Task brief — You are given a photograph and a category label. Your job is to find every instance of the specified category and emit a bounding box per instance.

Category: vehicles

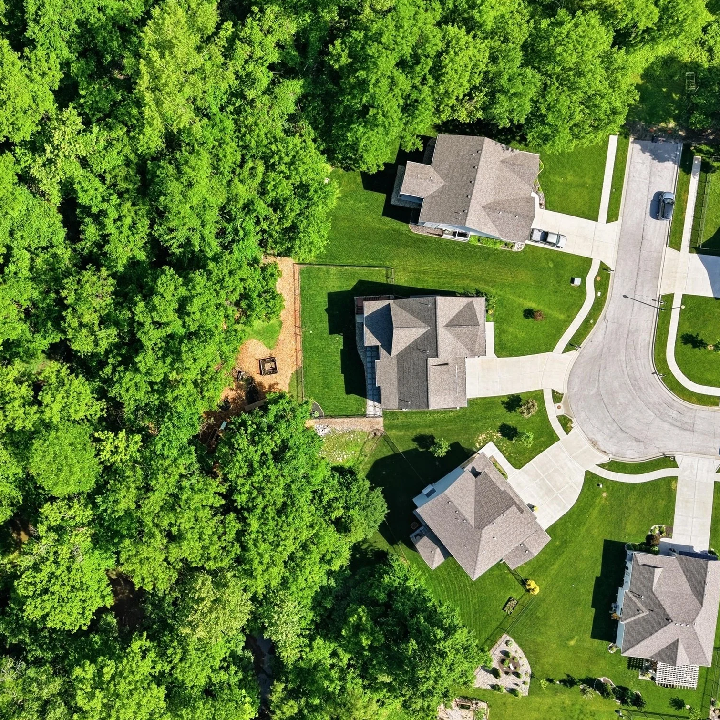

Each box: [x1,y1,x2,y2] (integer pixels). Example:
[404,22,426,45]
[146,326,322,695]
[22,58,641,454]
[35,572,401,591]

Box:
[529,228,568,248]
[657,191,676,221]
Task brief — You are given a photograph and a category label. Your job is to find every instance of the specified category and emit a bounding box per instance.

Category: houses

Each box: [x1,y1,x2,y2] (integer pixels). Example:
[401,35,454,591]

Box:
[615,551,720,667]
[414,452,551,581]
[363,296,486,409]
[400,134,540,243]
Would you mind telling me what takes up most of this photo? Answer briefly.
trees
